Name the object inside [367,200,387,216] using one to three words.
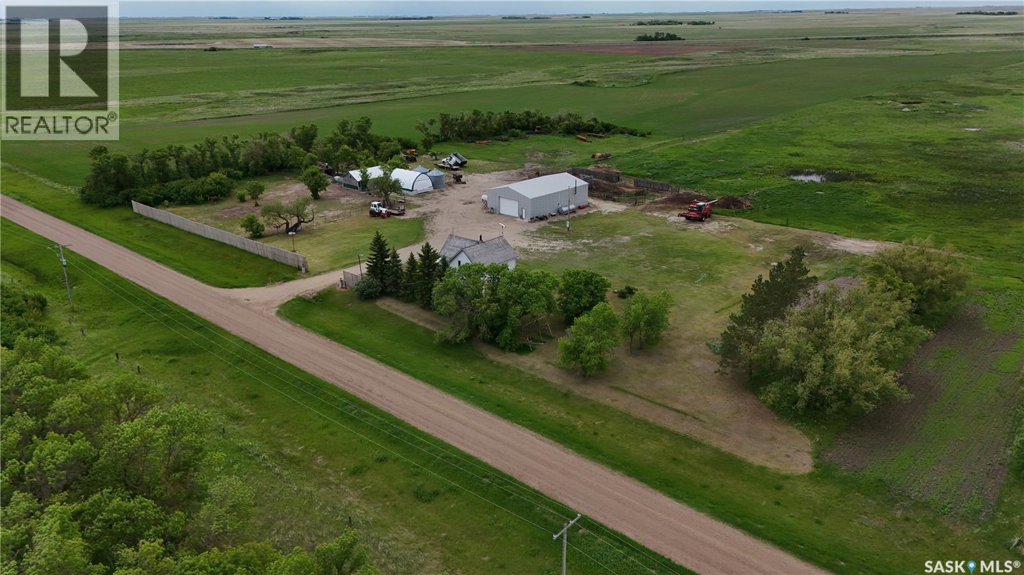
work vehicle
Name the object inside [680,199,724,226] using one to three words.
work vehicle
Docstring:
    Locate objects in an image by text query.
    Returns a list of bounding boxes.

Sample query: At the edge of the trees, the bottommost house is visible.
[440,223,519,277]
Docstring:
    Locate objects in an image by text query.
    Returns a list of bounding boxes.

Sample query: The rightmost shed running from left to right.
[486,173,591,222]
